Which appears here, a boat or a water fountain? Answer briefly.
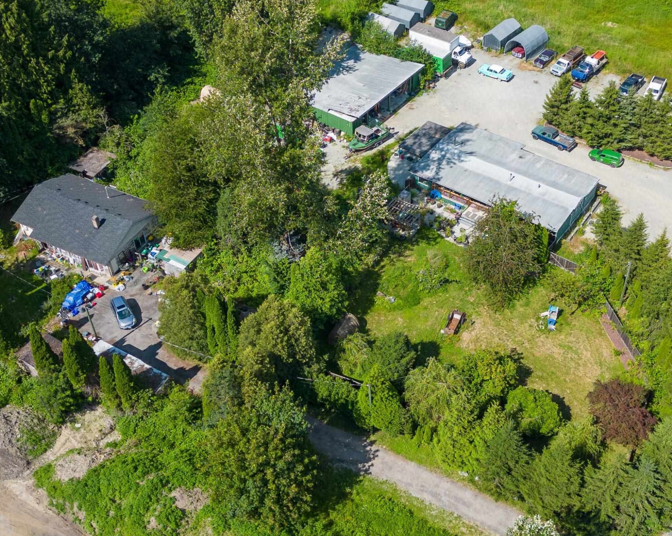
boat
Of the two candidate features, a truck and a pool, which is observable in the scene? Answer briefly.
truck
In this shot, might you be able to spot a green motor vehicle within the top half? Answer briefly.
Yes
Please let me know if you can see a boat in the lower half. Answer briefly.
No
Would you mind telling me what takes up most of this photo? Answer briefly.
trees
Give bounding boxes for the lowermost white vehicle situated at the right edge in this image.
[645,77,667,100]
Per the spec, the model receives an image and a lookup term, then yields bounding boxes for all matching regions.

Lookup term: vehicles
[410,24,479,70]
[587,149,624,168]
[476,63,515,83]
[533,50,557,67]
[110,295,136,333]
[567,47,612,86]
[509,41,524,60]
[529,125,578,150]
[549,39,588,76]
[619,74,644,96]
[433,7,456,31]
[645,77,667,100]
